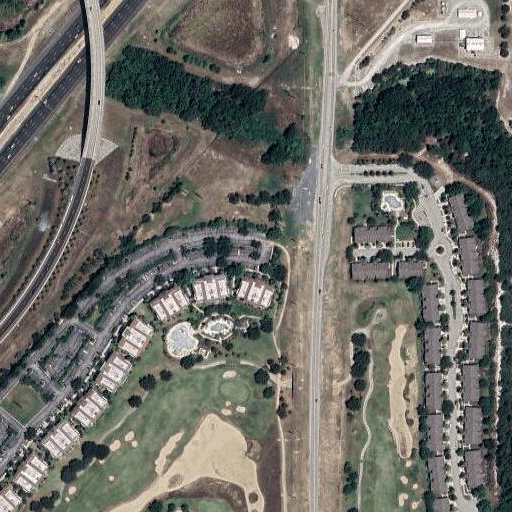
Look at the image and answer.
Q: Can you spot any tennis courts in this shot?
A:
No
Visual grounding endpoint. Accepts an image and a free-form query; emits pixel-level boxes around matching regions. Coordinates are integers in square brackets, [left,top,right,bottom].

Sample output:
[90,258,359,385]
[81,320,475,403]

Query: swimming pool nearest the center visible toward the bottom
[206,319,232,336]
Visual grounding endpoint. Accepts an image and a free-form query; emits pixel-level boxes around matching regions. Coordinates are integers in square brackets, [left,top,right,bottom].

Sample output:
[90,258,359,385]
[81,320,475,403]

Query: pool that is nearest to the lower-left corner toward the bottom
[166,321,199,359]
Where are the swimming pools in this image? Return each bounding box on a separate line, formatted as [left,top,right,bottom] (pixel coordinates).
[166,321,199,359]
[381,192,405,211]
[206,319,232,336]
